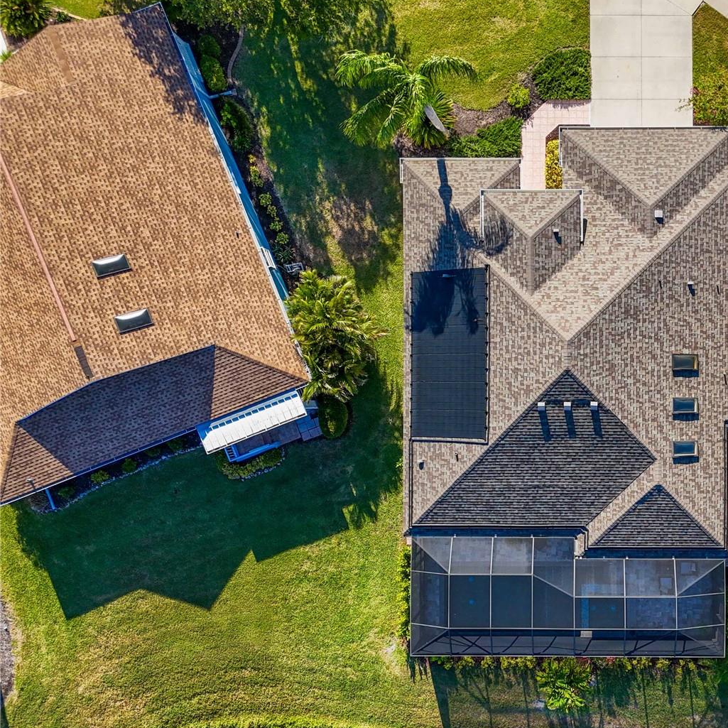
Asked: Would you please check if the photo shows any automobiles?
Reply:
No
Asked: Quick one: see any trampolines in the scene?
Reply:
No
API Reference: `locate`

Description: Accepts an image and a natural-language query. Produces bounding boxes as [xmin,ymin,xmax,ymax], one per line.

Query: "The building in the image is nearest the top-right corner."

[400,125,728,556]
